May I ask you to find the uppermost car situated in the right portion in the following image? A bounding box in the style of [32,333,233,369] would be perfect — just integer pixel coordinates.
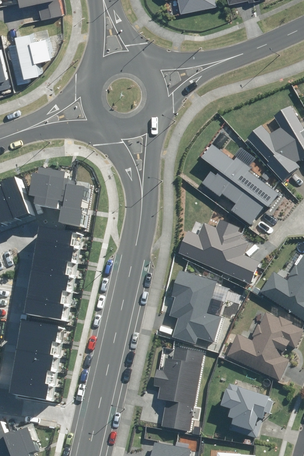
[181,80,198,95]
